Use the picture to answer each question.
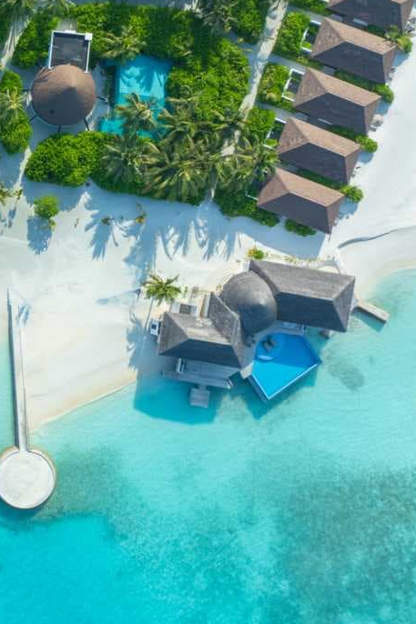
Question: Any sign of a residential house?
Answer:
Yes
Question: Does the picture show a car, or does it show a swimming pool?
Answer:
swimming pool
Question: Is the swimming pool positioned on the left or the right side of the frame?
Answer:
left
